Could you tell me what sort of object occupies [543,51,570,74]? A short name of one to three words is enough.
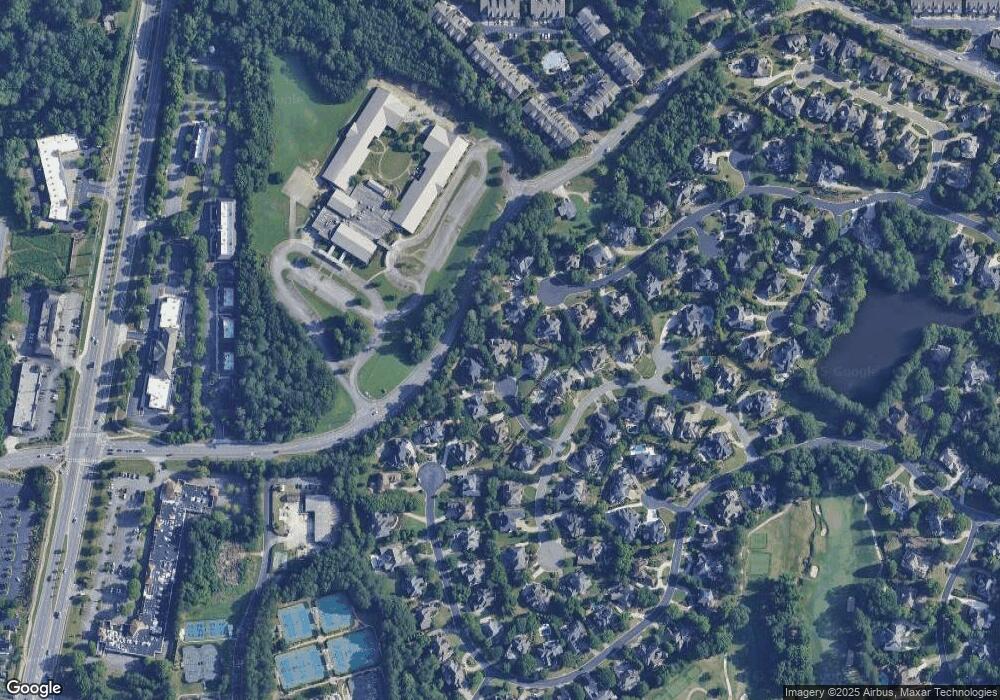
swimming pool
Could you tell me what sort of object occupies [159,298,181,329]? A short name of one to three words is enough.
building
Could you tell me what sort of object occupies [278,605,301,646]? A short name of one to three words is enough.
tennis court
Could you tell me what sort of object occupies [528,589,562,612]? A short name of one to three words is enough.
house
